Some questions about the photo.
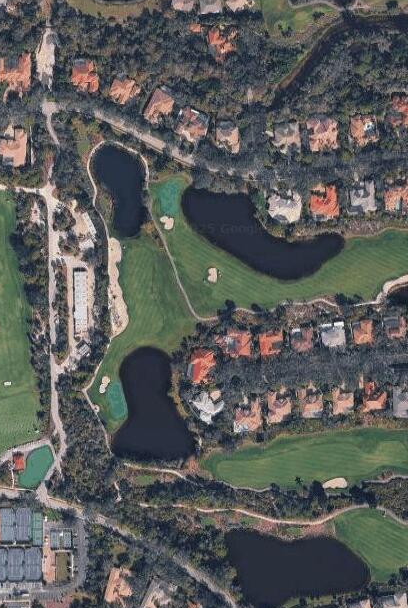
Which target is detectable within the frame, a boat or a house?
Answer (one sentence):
The one in the frame is a house.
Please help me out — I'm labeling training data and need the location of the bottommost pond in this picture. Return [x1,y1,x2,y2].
[224,530,370,608]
